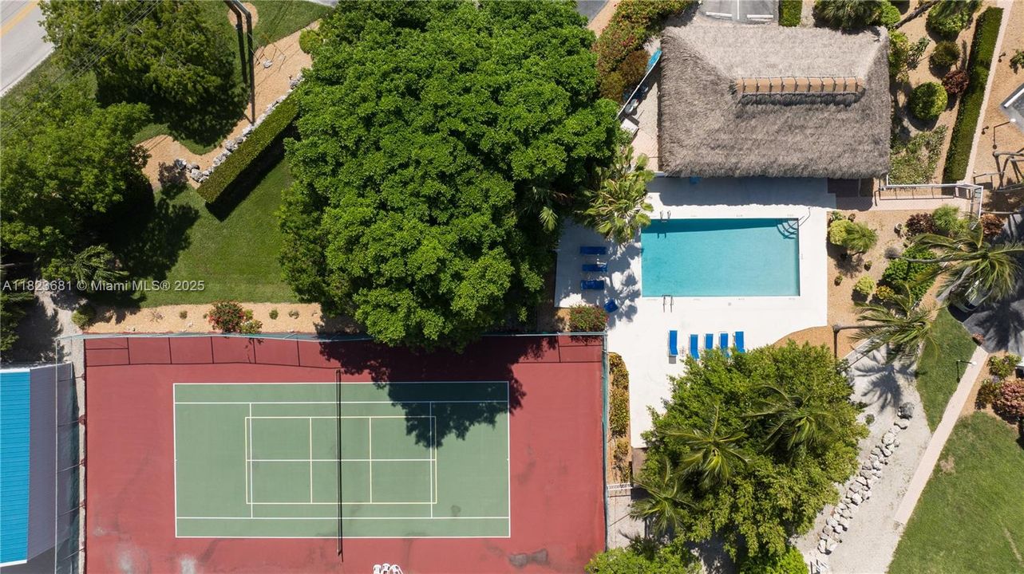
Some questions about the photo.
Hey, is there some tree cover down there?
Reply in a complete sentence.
Yes, some tree cover is visible.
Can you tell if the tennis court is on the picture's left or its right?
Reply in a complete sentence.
The tennis court sits on the left side.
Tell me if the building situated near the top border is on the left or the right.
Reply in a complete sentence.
The building situated near the top border is on the right side of the image.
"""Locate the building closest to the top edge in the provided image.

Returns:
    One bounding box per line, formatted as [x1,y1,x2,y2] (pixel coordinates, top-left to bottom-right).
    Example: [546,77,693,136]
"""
[656,21,894,179]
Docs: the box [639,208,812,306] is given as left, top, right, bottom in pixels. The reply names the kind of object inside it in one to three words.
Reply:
swimming pool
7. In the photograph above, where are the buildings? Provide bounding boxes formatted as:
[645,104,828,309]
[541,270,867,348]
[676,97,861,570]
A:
[0,366,70,565]
[656,21,894,179]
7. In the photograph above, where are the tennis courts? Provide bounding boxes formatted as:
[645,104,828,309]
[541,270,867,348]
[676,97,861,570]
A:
[84,331,606,574]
